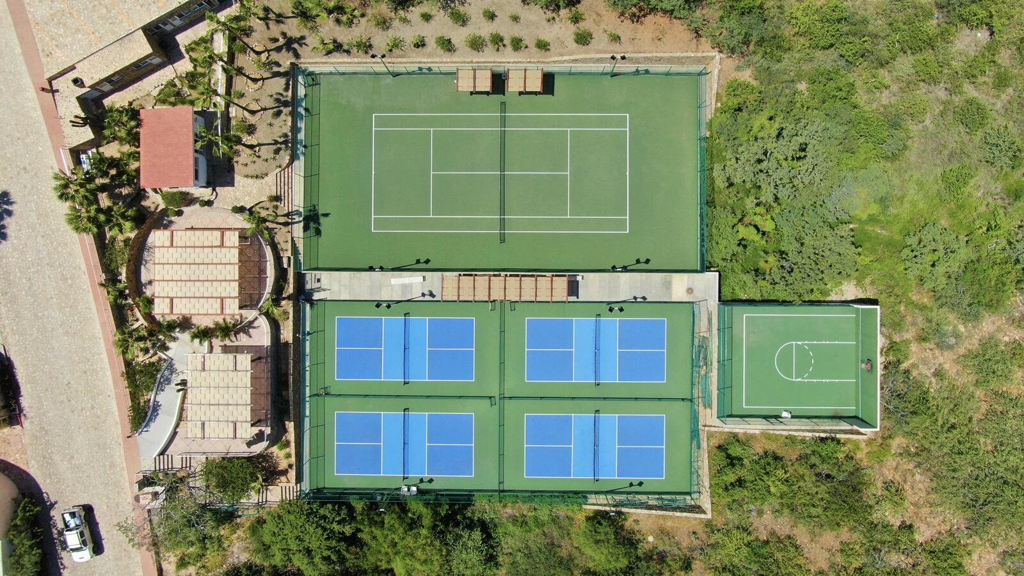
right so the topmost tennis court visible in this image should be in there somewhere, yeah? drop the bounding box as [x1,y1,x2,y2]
[304,74,699,271]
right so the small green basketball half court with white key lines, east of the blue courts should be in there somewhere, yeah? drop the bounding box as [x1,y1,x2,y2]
[718,304,855,420]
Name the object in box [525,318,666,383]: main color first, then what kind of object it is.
blue sports court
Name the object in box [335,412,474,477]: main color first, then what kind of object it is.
blue sports court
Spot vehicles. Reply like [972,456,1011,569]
[60,506,97,563]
